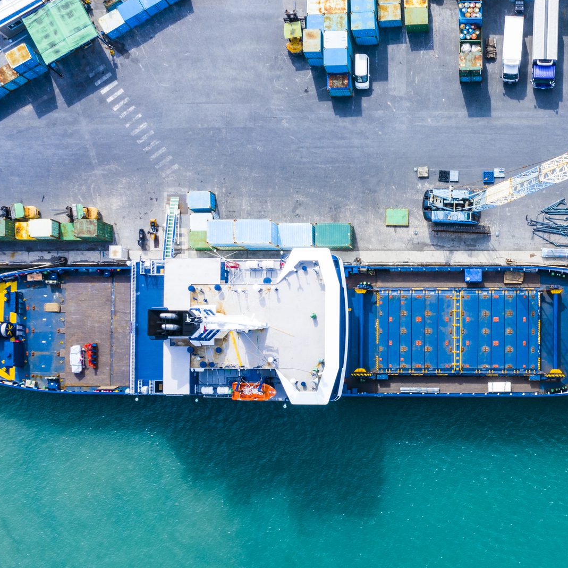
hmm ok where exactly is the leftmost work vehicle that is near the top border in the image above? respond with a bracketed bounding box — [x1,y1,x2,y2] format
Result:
[285,17,304,55]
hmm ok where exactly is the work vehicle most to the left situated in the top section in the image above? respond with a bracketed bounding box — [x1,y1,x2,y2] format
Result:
[4,203,40,220]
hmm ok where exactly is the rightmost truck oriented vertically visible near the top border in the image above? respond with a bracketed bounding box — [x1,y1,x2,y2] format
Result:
[532,0,560,89]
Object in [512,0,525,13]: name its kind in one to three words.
vehicle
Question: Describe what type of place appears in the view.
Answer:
port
